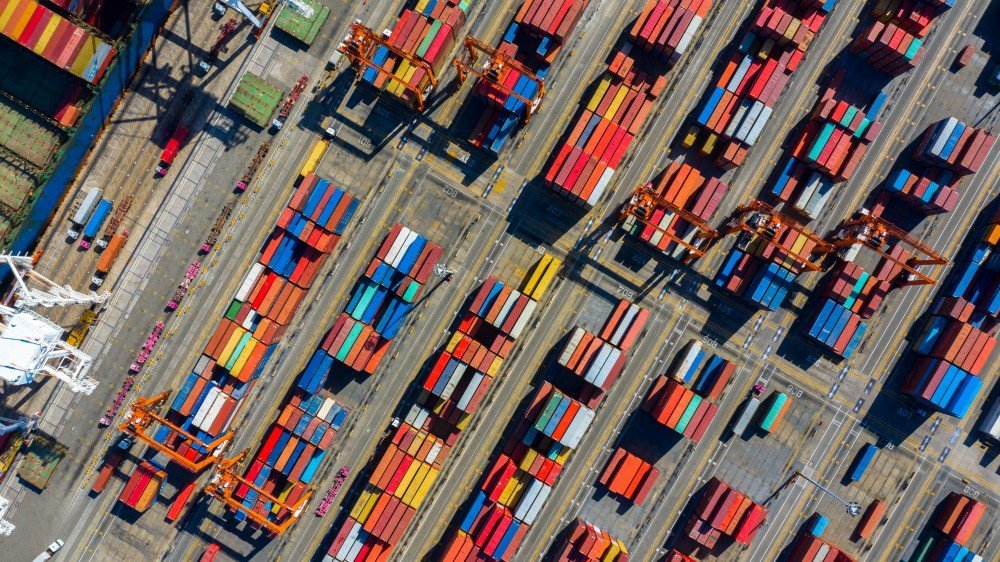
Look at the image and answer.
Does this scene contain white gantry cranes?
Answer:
Yes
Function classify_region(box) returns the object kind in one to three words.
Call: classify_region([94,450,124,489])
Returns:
shipping container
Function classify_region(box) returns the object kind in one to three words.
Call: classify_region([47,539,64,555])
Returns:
vehicle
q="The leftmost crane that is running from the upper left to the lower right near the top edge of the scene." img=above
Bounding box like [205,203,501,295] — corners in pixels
[338,18,444,117]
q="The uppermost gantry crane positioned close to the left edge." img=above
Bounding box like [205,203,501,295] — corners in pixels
[0,245,115,394]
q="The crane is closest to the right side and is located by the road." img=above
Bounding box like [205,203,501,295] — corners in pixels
[820,215,951,291]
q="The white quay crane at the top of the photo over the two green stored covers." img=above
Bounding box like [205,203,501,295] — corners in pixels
[216,0,308,44]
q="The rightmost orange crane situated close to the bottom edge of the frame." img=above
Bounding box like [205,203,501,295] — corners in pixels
[200,443,320,537]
